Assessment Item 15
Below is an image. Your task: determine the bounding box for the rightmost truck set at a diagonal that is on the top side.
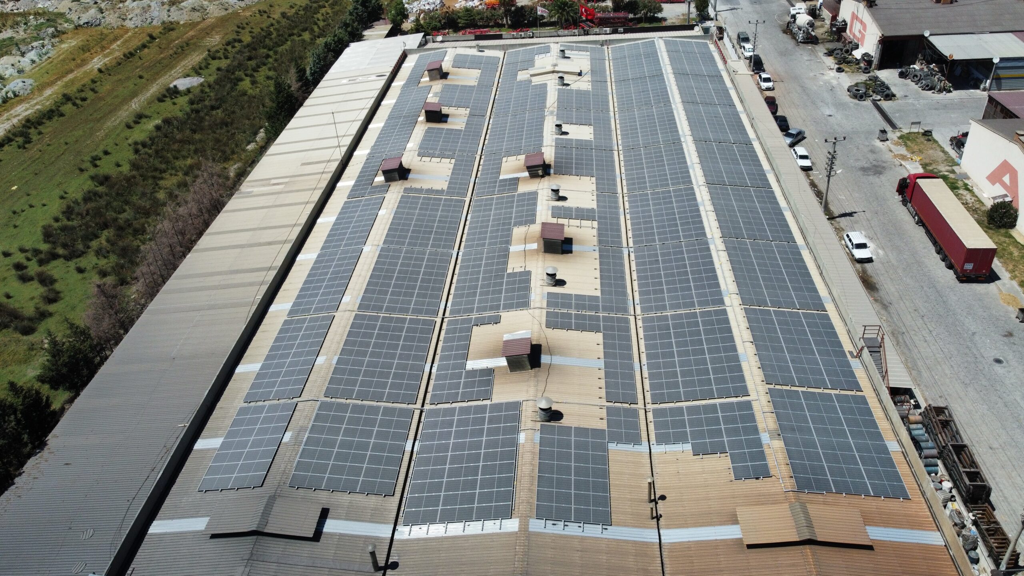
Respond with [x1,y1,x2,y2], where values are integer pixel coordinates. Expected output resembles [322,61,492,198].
[894,173,997,281]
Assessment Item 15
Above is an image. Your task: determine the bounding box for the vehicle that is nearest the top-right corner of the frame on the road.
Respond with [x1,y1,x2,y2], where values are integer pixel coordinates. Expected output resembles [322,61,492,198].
[942,130,969,147]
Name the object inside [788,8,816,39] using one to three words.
truck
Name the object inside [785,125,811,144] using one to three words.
car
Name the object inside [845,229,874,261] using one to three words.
car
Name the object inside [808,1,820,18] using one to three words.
vehicle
